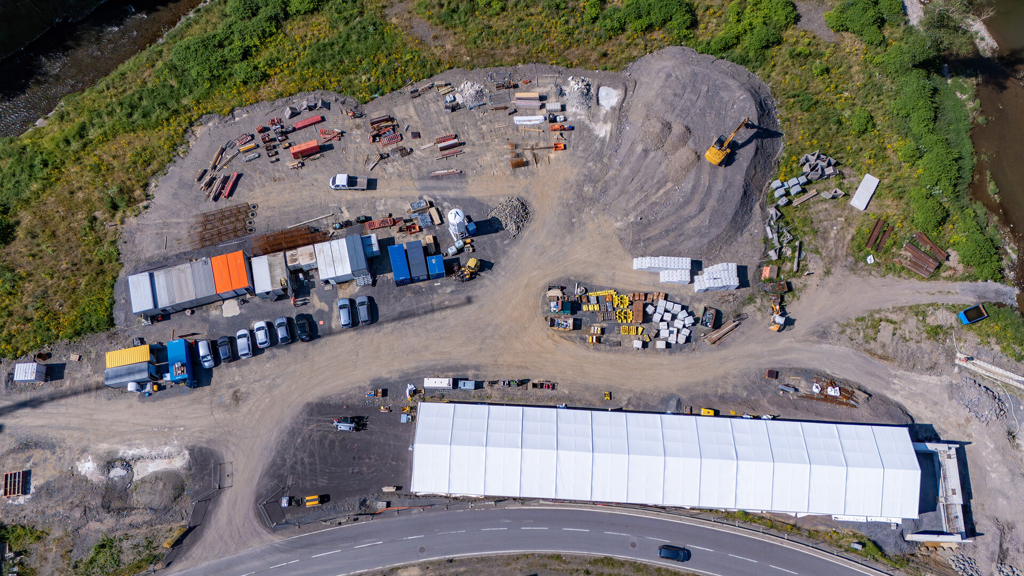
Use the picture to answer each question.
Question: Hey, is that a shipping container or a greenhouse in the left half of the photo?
shipping container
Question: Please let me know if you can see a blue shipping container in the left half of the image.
Yes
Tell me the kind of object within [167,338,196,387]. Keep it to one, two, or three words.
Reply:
shipping container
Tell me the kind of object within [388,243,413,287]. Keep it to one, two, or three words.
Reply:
shipping container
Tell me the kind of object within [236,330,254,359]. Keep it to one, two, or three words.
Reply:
car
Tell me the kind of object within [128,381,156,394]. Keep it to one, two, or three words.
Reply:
vehicle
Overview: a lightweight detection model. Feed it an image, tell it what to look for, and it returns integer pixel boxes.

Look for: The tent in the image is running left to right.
[411,402,922,519]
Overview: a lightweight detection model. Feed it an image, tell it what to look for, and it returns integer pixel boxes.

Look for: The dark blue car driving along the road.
[657,545,689,563]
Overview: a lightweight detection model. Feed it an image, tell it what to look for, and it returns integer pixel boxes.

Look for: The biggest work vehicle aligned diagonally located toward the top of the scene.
[700,116,750,172]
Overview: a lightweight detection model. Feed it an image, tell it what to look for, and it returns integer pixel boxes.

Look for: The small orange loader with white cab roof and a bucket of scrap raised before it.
[767,299,784,333]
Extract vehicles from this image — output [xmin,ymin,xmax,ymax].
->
[356,296,372,326]
[128,381,156,394]
[330,174,369,190]
[254,321,272,349]
[295,313,312,343]
[657,545,689,563]
[337,298,353,329]
[236,330,254,359]
[767,299,784,333]
[333,416,367,432]
[306,494,321,505]
[275,317,292,345]
[465,245,473,254]
[700,116,750,172]
[452,255,485,286]
[196,340,216,369]
[217,336,235,363]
